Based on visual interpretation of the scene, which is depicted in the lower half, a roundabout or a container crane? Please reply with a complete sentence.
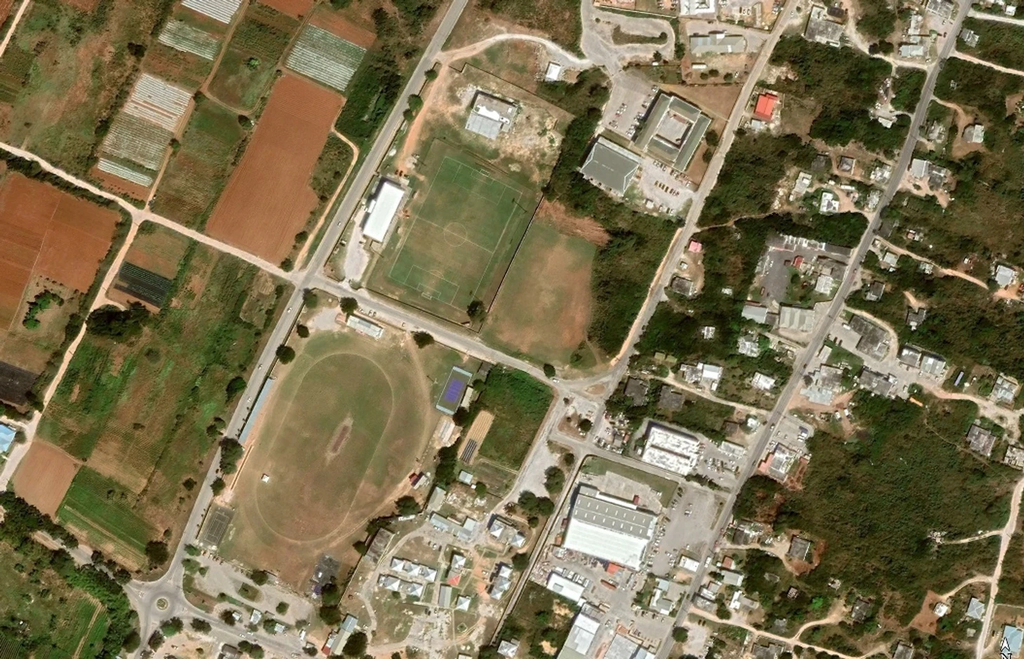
What appears in the lower half is a roundabout.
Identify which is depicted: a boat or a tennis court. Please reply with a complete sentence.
There is a tennis court in the scene.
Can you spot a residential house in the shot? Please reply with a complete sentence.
Yes, this view includes a residential house.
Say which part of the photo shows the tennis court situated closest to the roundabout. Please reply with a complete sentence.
The tennis court situated closest to the roundabout appears toward the bottom left of the photo.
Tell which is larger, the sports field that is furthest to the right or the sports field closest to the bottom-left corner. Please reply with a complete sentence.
The sports field closest to the bottom-left corner is bigger than the sports field that is furthest to the right.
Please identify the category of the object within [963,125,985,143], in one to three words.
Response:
house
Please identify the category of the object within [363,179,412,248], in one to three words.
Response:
building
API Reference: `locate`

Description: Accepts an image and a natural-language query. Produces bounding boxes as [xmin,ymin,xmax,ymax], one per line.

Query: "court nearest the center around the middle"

[436,366,473,415]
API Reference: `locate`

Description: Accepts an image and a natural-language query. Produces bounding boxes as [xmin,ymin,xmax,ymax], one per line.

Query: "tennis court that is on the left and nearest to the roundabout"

[198,504,235,549]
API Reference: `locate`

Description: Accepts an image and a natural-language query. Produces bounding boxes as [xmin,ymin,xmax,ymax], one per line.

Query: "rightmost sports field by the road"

[484,197,596,354]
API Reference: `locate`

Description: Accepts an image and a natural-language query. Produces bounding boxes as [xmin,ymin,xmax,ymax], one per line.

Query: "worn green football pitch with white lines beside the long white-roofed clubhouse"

[389,155,527,312]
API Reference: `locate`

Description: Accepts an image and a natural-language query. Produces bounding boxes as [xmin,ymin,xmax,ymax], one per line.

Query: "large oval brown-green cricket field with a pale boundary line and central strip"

[228,328,431,571]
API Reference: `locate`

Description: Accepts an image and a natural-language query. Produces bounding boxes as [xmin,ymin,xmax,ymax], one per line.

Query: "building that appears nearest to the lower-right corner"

[1001,626,1023,652]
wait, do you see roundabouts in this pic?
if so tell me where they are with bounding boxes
[123,559,205,647]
